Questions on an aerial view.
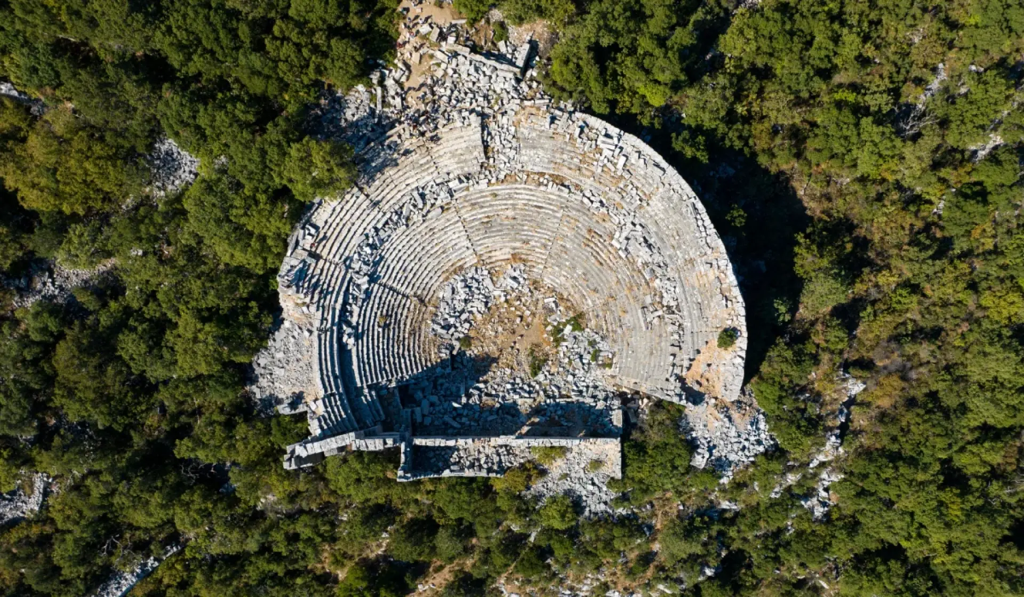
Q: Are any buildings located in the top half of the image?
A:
No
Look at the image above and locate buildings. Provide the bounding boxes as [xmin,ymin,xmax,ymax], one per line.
[397,396,622,481]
